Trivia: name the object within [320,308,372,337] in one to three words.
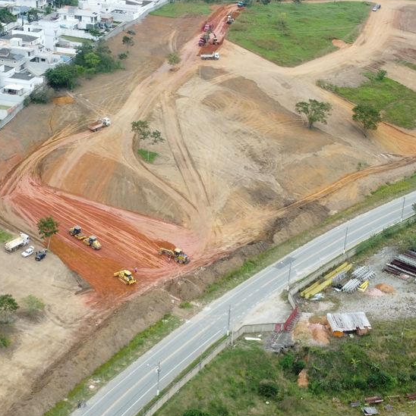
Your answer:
shed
